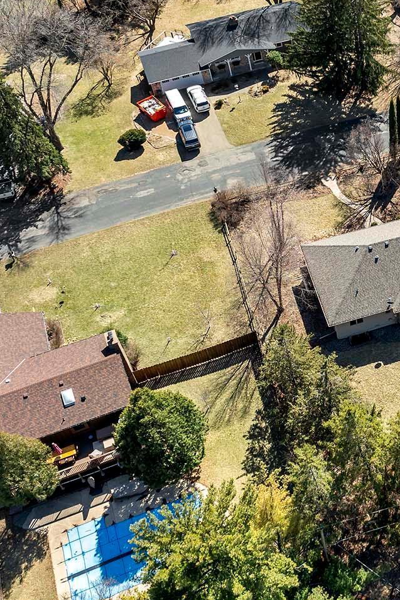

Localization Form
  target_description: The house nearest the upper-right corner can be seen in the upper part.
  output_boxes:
[137,1,307,97]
